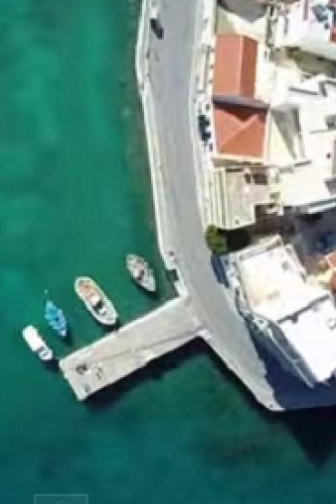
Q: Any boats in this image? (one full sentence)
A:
Yes, the photo shows a boat.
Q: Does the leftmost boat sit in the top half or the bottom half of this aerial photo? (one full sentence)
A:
Seen from above, the leftmost boat lies in the bottom half of the view.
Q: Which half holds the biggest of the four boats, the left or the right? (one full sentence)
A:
The biggest of the four boats is on the left side of the image.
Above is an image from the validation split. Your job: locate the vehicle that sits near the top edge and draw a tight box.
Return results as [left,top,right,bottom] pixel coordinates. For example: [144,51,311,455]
[150,16,165,38]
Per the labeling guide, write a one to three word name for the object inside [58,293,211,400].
pier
